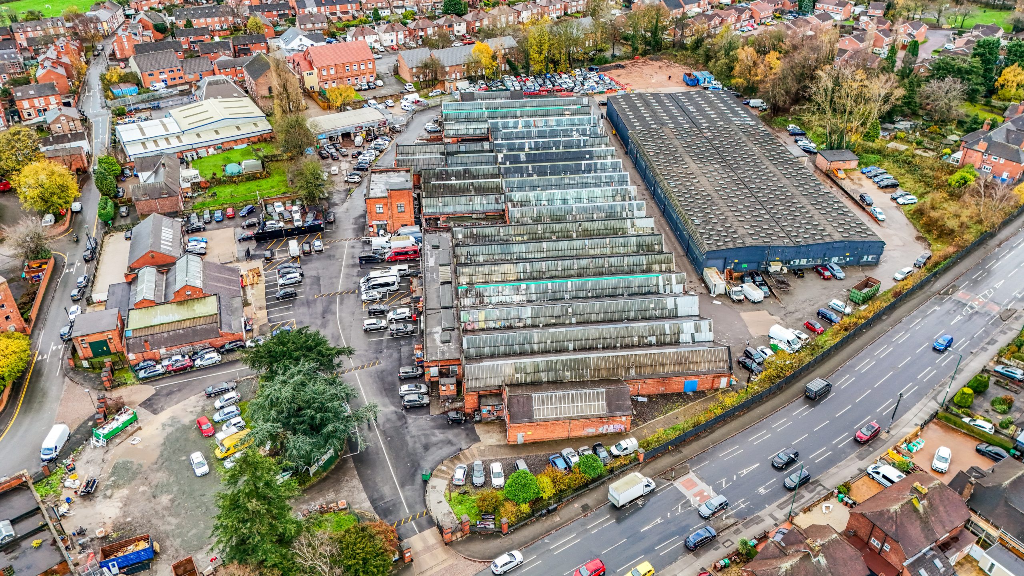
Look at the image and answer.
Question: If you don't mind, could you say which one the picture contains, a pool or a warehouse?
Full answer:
The image shows a warehouse.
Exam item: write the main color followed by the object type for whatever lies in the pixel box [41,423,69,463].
white van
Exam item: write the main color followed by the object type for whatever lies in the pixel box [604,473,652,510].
white truck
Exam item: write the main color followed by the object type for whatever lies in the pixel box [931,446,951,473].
white car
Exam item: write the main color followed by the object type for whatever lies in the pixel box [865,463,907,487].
white vehicle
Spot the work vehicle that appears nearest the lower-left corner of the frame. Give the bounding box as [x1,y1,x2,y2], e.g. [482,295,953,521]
[74,524,89,538]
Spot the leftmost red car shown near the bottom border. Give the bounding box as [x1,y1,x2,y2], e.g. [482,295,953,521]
[573,556,608,576]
